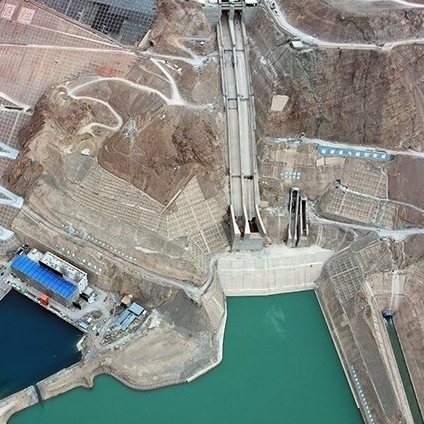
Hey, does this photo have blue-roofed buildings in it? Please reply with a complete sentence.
Yes, there is a blue-roofed building in the image.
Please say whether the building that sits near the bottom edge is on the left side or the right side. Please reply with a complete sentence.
It is on the right.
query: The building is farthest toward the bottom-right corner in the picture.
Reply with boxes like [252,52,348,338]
[347,303,404,424]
